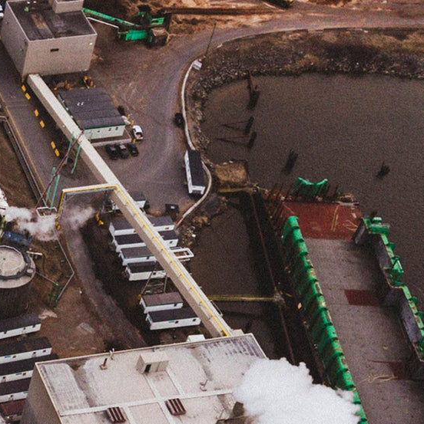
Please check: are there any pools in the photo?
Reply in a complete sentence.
No, the picture doesn't show any pool.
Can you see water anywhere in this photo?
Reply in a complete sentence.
Yes, there's water in this view.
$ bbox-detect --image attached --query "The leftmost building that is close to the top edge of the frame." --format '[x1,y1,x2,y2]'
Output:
[0,0,98,75]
